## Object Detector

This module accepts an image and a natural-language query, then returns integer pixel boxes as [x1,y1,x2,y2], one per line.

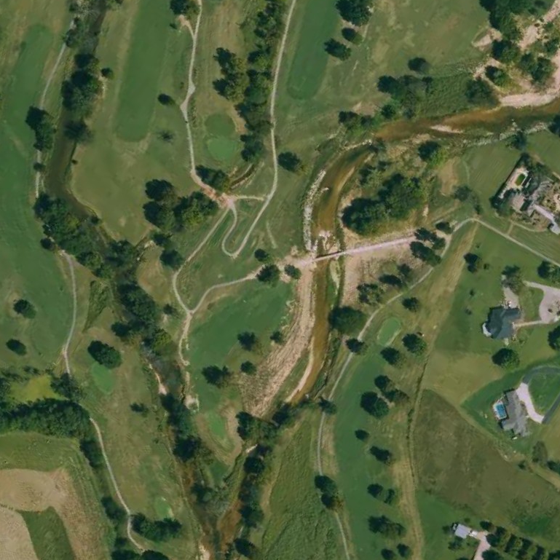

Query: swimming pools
[513,173,527,188]
[494,403,504,419]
